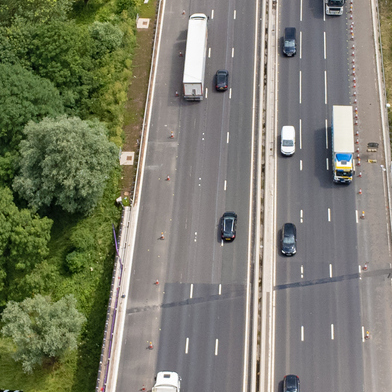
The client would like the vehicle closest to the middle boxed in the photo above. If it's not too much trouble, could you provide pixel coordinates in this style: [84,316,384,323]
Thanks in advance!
[220,214,238,242]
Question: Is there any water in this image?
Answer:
No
